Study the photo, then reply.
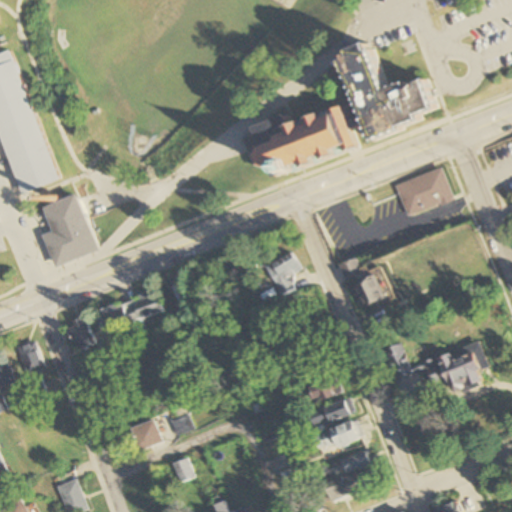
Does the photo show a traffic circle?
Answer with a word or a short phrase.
No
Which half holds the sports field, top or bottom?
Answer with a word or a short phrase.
top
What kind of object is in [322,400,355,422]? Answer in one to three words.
house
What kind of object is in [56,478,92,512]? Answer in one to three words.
house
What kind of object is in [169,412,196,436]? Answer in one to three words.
building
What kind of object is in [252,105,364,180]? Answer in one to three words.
building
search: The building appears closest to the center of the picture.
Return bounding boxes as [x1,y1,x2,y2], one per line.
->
[266,252,304,296]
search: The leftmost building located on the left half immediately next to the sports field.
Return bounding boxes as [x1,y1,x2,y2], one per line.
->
[0,50,63,188]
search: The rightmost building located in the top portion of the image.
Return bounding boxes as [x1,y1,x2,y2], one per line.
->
[396,167,454,217]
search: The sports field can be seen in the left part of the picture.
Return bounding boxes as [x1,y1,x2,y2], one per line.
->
[56,0,274,158]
